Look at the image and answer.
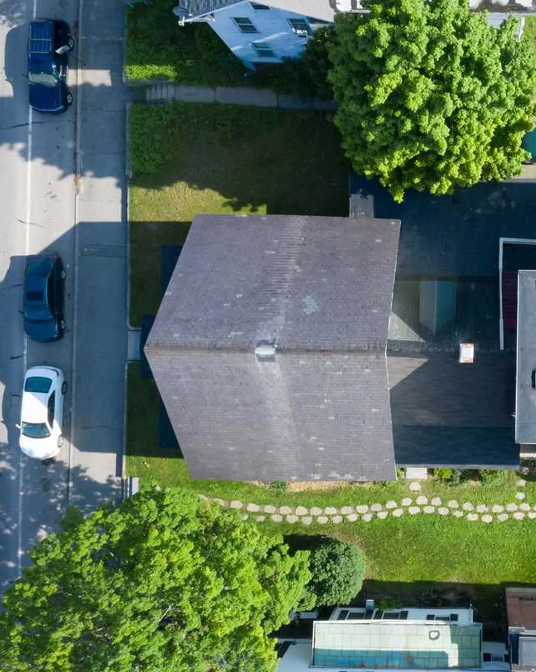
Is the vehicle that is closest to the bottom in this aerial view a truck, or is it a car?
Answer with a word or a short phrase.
car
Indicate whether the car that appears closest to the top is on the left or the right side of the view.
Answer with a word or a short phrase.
left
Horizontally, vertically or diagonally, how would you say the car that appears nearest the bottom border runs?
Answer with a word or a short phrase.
vertically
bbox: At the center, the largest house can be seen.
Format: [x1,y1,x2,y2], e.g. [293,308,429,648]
[141,215,402,479]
